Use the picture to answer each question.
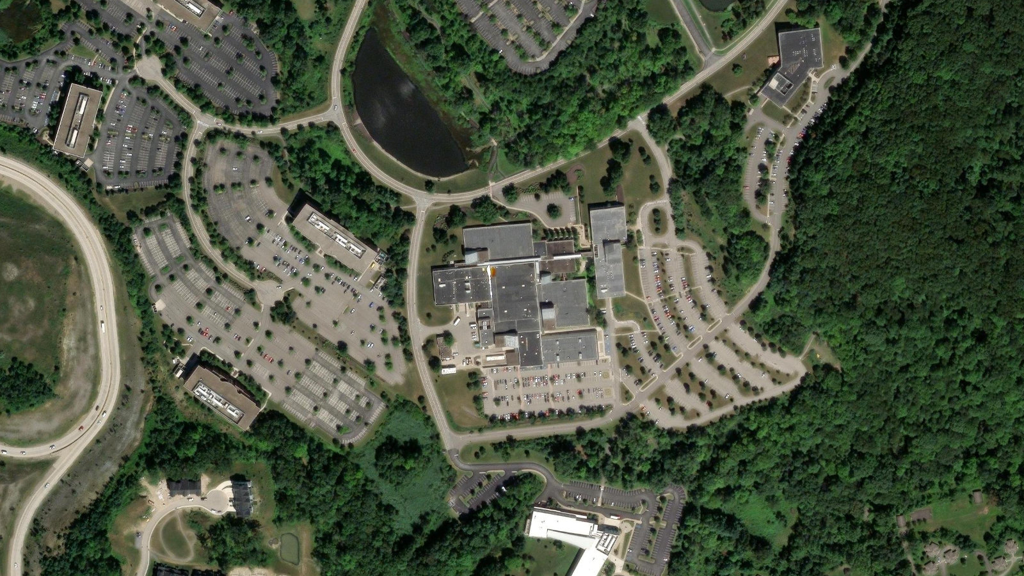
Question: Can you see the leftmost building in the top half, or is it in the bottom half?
top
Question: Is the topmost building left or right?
left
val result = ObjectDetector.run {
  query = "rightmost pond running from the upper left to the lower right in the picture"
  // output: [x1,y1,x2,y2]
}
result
[352,27,471,178]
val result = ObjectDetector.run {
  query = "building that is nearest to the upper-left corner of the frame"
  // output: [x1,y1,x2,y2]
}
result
[53,83,104,158]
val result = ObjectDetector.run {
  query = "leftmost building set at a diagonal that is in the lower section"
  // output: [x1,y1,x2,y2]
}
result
[184,365,261,431]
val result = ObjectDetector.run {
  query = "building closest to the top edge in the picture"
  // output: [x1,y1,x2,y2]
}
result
[159,0,222,33]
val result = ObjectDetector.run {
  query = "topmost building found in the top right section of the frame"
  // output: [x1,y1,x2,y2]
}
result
[761,28,824,109]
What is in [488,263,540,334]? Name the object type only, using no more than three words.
building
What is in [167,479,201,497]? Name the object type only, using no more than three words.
house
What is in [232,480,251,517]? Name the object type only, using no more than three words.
house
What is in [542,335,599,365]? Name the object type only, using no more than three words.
building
